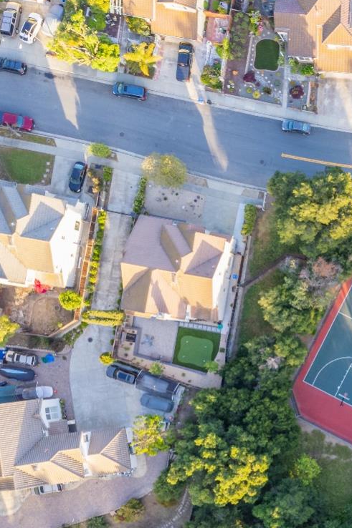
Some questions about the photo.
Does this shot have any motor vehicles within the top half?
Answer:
Yes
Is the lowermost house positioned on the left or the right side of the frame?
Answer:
left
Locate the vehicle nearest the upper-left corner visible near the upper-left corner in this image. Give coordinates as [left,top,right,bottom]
[0,2,22,37]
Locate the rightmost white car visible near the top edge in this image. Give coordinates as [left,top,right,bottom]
[21,12,42,44]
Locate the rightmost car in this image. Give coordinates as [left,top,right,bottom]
[282,119,312,134]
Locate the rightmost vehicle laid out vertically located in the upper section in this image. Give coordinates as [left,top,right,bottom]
[177,42,193,81]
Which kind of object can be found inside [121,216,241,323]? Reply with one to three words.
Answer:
house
